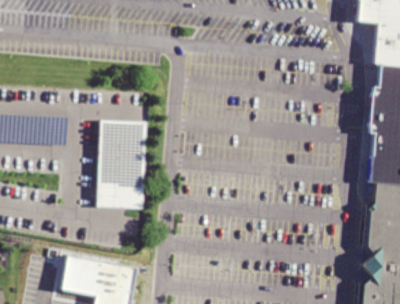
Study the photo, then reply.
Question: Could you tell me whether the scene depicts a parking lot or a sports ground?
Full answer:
It's a parking lot.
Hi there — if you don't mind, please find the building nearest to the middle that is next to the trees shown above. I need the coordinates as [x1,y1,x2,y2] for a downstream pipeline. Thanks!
[98,122,150,210]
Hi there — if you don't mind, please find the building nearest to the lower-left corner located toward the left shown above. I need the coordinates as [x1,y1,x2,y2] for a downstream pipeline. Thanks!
[62,256,137,304]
